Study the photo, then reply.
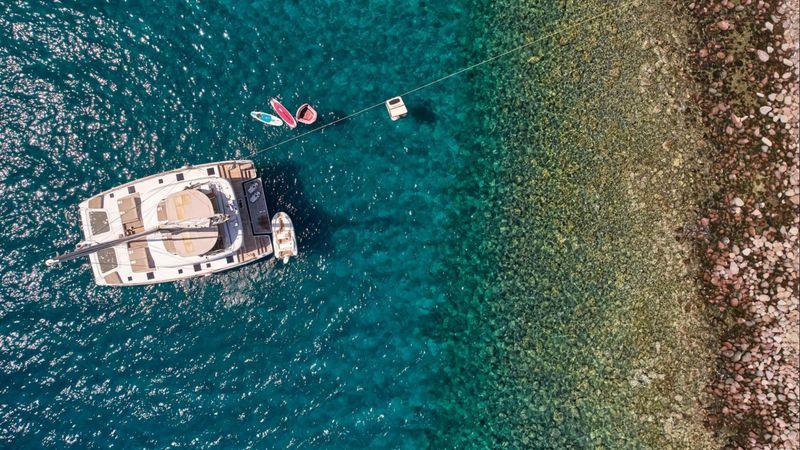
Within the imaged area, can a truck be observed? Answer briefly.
No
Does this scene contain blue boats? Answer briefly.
No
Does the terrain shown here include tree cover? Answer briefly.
No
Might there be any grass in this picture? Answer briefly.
No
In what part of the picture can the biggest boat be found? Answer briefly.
left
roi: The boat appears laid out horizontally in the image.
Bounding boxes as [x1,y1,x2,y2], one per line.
[25,163,276,284]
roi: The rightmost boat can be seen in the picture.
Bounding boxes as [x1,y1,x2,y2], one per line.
[273,212,296,263]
